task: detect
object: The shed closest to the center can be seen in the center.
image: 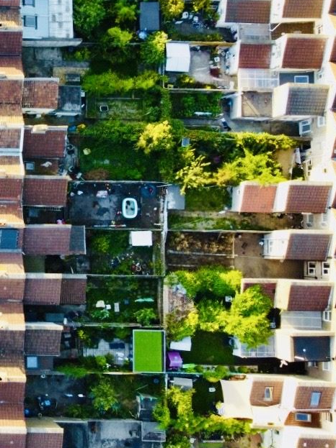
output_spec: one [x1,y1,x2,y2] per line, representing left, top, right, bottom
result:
[165,184,186,209]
